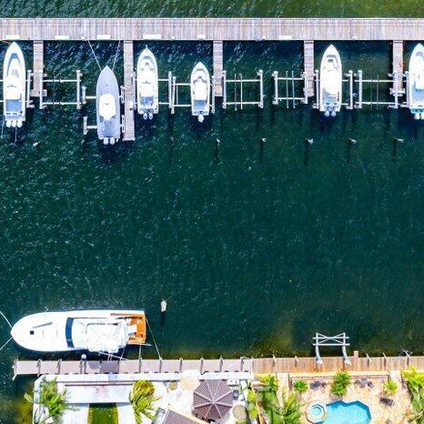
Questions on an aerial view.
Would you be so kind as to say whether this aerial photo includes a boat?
Yes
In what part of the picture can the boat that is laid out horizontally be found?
bottom left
